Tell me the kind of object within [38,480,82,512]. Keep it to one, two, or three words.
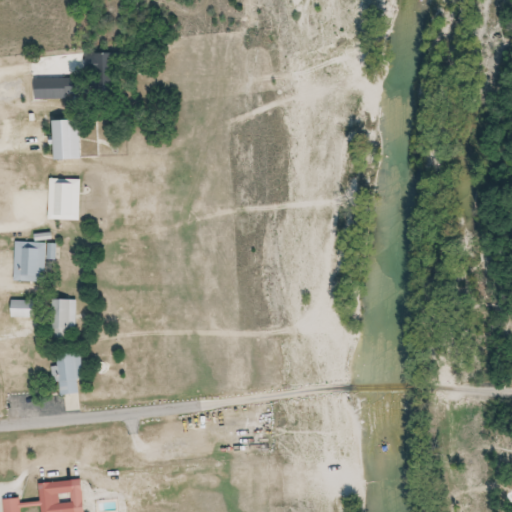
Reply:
house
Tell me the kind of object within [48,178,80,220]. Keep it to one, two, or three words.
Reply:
barn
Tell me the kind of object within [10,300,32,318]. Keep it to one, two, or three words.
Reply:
shed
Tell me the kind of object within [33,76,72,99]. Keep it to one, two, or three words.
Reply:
building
